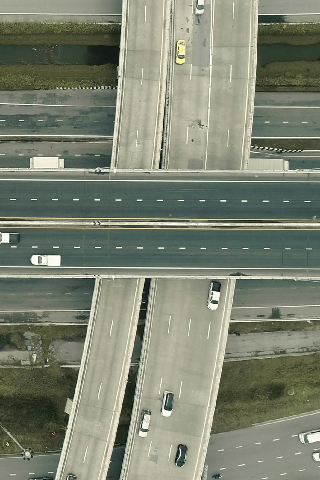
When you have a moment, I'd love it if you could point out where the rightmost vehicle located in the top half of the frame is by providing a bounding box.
[248,157,289,172]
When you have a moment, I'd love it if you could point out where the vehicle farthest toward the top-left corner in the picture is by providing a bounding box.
[29,156,64,168]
